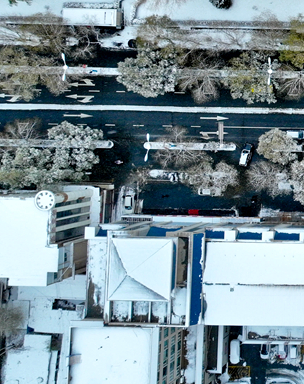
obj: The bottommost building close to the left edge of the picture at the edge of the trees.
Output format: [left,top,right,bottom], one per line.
[6,343,65,384]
